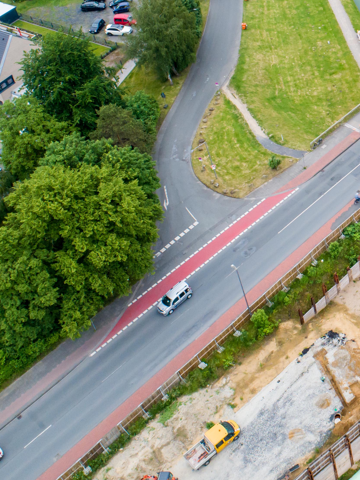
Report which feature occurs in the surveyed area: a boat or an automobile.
automobile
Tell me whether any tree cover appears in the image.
Yes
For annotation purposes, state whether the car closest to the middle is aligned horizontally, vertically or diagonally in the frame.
diagonally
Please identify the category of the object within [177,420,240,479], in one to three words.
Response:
truck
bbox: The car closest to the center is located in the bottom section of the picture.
[154,280,196,319]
